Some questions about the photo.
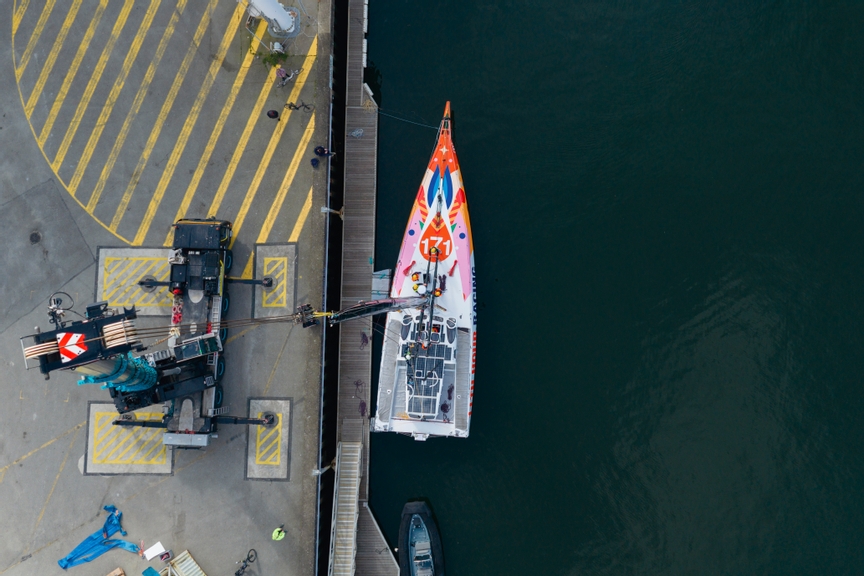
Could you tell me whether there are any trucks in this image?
No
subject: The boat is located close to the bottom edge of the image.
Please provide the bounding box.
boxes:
[398,500,445,576]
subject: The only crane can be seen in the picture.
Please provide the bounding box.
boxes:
[17,216,294,449]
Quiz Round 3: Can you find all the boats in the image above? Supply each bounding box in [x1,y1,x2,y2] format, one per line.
[398,500,445,576]
[377,100,477,441]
